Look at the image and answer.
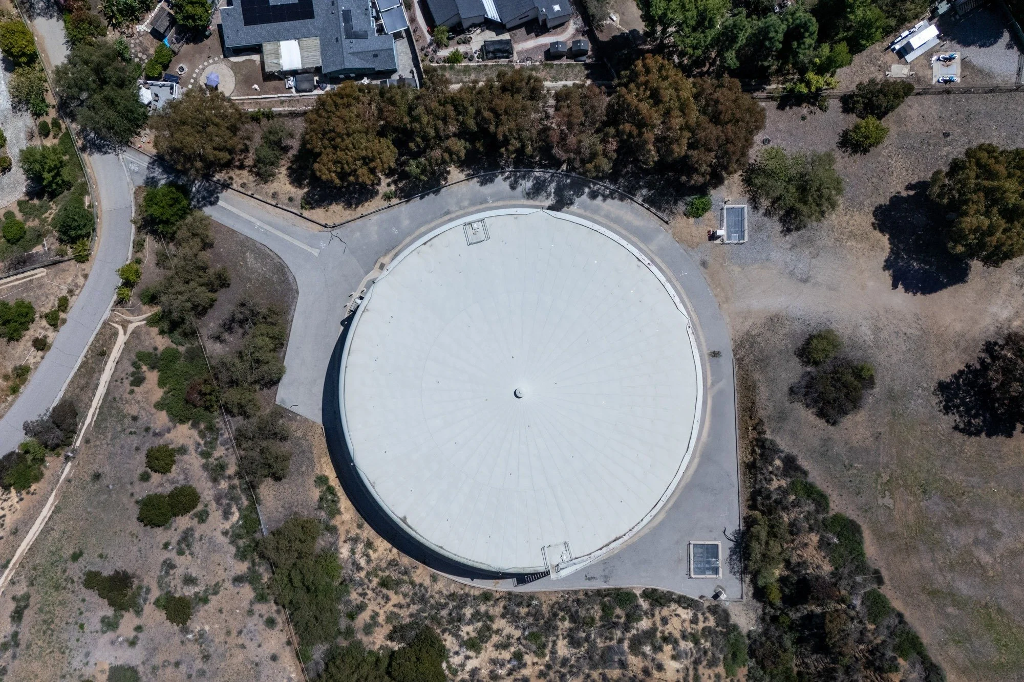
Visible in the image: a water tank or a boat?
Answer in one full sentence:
It is a water tank that can be seen here.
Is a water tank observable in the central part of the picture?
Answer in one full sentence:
Yes, a water tank shows up in the central part of the picture.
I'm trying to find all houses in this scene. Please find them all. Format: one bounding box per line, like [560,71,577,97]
[217,0,399,79]
[429,0,572,33]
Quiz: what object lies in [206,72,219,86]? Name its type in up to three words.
umbrella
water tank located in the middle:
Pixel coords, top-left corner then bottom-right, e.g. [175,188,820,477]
[339,208,702,582]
